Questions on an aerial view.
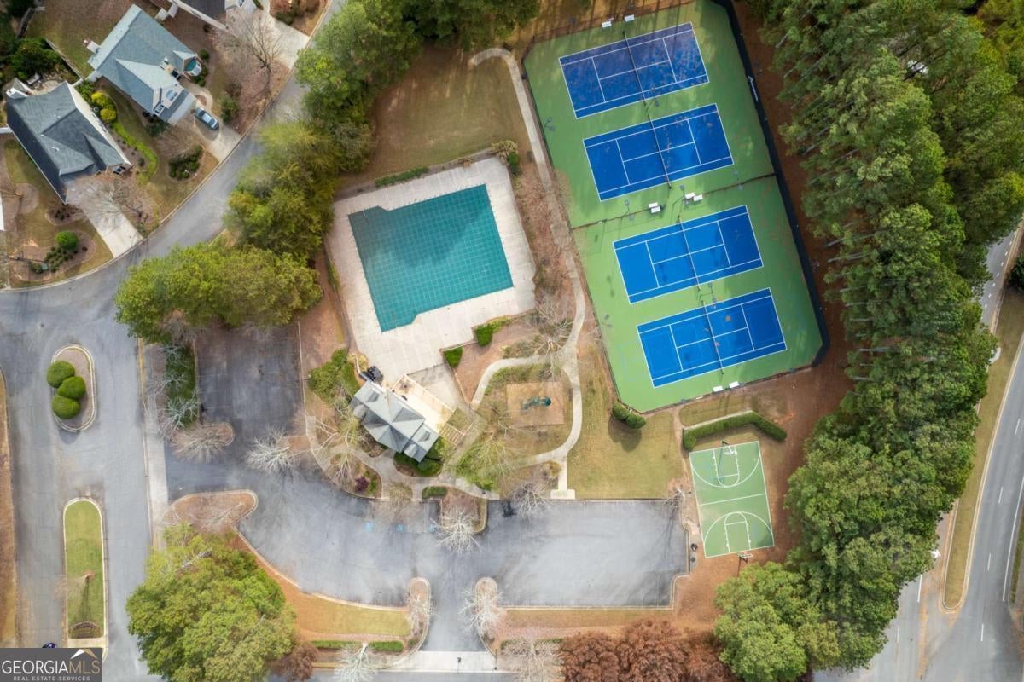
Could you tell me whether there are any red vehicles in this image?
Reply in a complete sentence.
No, there is no red vehicle in the image.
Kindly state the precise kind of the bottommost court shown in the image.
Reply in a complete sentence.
The bottommost court is a basketball court.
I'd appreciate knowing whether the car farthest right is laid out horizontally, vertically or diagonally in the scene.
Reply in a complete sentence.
The car farthest right is laid out diagonally.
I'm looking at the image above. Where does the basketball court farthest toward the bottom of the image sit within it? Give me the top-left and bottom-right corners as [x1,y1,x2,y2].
[689,440,774,559]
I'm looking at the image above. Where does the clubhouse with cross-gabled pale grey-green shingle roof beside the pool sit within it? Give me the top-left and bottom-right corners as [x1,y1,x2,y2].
[346,380,440,463]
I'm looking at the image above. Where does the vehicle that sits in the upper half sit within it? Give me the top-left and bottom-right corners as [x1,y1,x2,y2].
[192,106,219,130]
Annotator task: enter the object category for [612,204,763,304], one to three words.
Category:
tennis court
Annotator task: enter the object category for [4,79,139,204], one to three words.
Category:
house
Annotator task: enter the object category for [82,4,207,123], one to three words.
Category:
house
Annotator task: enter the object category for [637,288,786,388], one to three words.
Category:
tennis court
